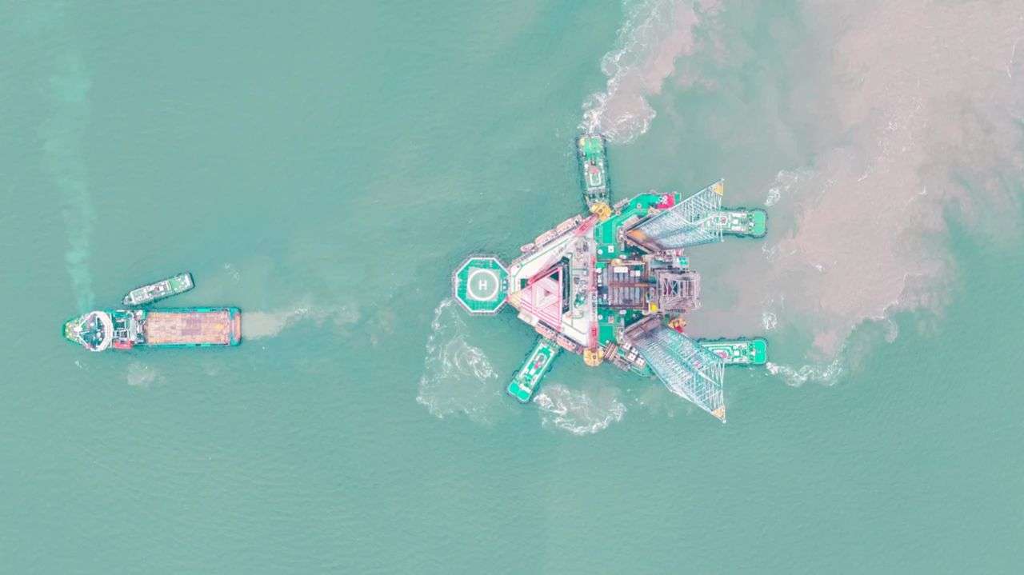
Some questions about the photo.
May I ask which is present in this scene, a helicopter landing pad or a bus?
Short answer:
helicopter landing pad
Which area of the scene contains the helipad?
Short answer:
center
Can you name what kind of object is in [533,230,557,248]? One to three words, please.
boat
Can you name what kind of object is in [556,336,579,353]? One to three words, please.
boat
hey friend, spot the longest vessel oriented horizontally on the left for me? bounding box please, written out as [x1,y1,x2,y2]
[63,305,243,351]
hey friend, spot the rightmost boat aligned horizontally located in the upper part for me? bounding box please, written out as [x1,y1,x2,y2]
[688,206,768,238]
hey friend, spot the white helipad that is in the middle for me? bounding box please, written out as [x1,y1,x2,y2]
[452,254,513,316]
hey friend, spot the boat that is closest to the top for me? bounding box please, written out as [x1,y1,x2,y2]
[578,132,612,212]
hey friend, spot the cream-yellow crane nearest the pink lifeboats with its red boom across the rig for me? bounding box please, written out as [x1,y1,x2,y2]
[583,248,603,368]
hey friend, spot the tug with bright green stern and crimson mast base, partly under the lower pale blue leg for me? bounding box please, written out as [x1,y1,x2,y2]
[690,336,769,370]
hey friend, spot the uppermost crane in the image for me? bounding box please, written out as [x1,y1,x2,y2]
[527,199,611,284]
